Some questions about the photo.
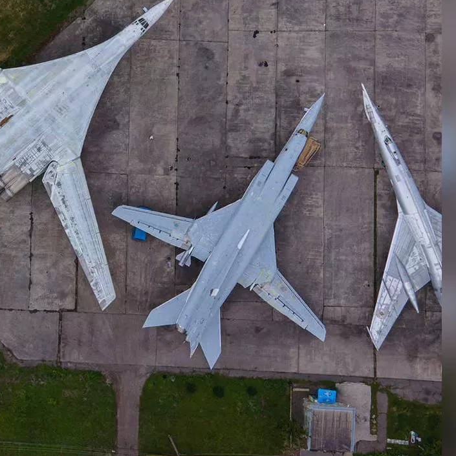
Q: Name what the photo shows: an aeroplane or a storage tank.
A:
aeroplane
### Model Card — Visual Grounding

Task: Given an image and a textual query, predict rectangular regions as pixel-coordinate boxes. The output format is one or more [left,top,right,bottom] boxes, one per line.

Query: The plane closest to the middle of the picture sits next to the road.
[112,90,329,369]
